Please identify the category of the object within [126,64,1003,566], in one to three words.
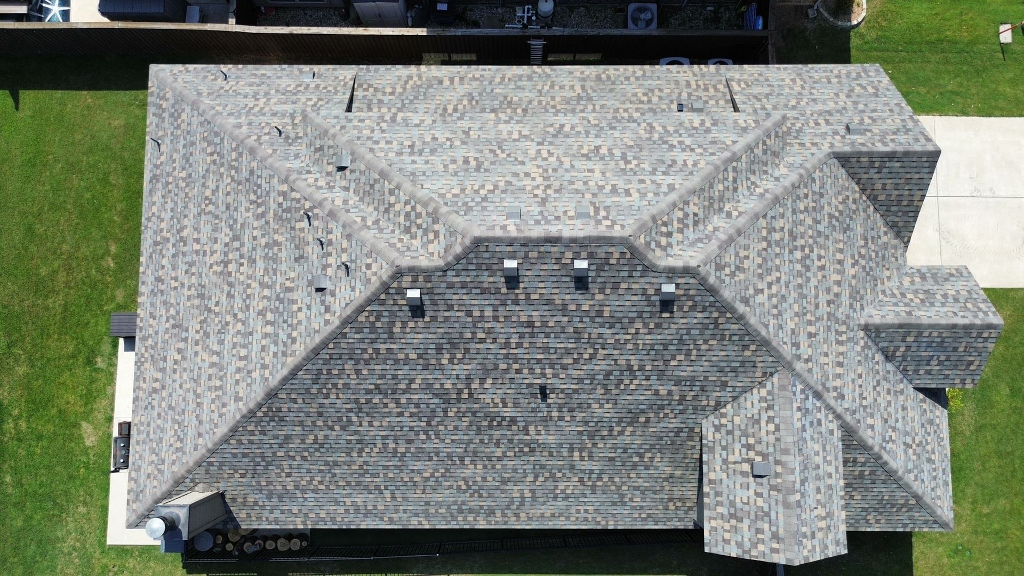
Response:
house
